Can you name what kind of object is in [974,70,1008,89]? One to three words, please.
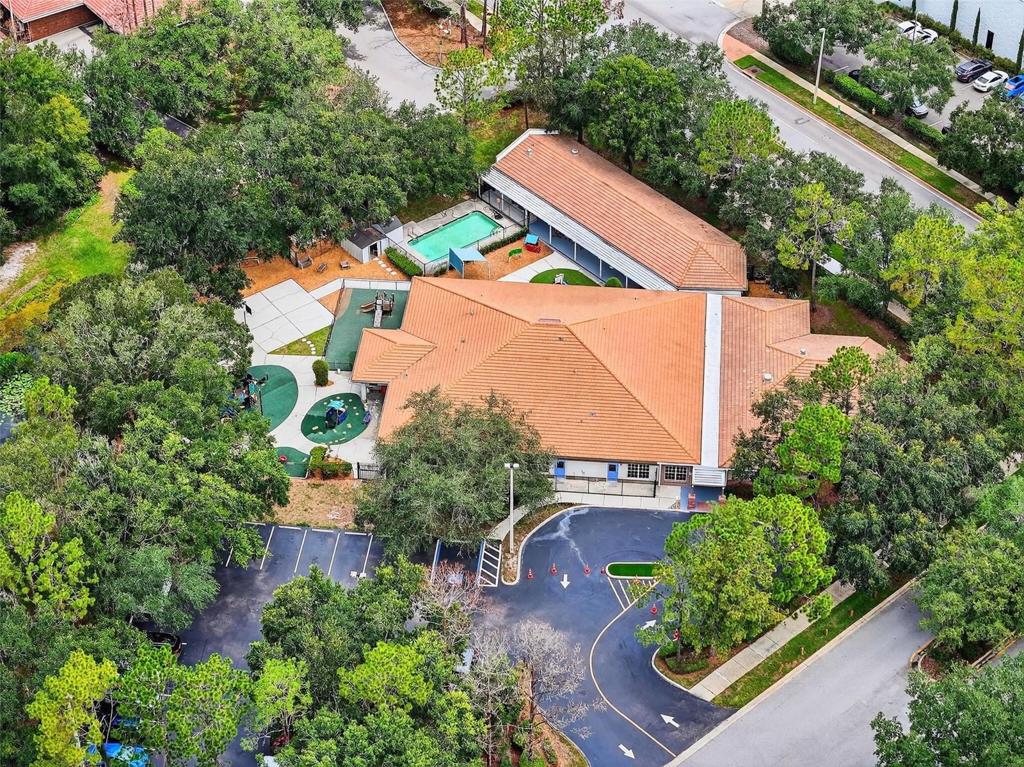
car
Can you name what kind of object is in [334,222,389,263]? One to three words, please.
shed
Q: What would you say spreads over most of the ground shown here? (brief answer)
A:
trees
